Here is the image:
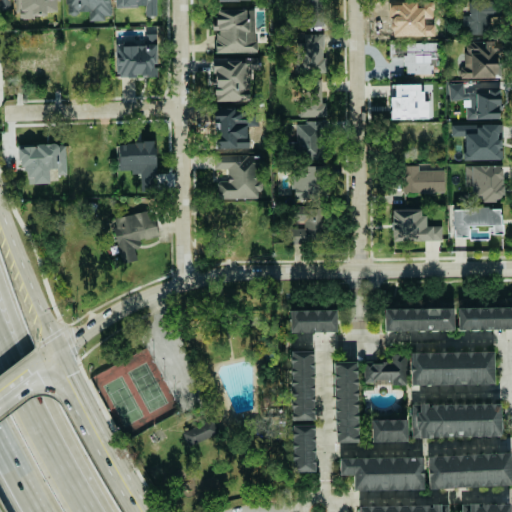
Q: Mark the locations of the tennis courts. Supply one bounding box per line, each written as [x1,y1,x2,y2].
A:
[129,364,168,412]
[104,377,144,426]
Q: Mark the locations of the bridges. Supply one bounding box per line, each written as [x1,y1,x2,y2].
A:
[0,348,64,420]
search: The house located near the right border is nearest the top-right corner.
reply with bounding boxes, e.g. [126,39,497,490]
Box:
[464,0,498,34]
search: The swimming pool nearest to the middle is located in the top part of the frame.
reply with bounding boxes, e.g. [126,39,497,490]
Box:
[278,172,290,190]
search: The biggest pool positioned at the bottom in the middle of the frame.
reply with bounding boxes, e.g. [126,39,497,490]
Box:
[214,356,258,418]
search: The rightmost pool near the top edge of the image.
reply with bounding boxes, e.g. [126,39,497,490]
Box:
[256,8,268,43]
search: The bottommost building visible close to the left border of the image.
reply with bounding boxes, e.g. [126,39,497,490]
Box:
[19,144,66,184]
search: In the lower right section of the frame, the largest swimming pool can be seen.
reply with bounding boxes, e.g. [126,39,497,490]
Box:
[364,386,404,412]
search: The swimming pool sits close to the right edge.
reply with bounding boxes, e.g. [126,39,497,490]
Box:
[470,226,491,242]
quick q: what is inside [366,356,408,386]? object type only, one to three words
building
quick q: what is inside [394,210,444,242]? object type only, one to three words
house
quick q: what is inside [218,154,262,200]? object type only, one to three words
house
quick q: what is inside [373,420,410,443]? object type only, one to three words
building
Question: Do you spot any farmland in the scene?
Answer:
No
